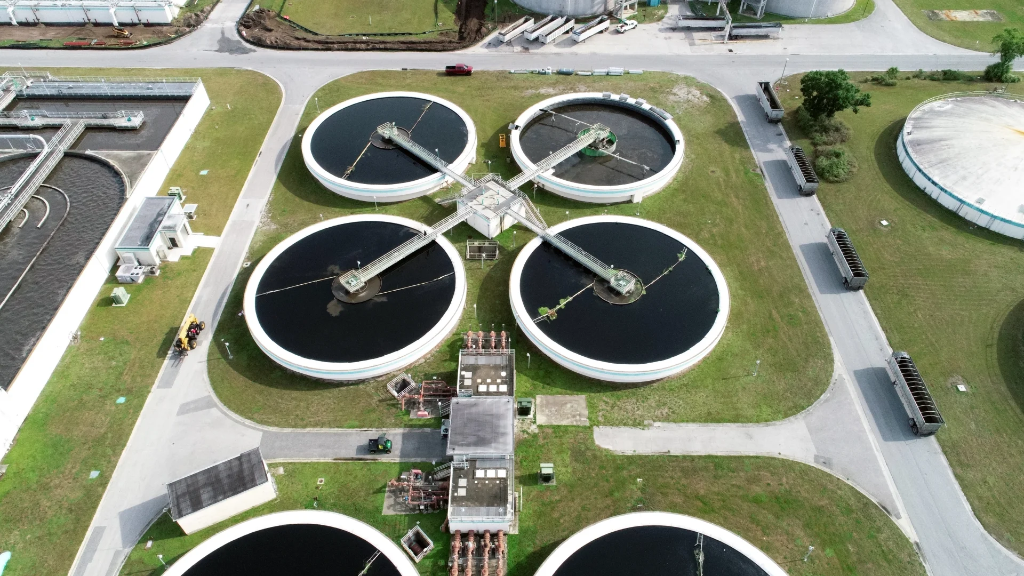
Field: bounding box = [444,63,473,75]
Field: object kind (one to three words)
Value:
vehicle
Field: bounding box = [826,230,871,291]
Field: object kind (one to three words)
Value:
trailer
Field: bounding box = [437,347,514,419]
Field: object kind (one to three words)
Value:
building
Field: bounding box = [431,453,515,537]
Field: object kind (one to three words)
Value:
building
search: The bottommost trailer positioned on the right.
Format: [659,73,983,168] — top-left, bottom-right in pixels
[884,353,946,436]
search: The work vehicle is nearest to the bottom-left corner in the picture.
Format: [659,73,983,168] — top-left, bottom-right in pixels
[171,312,203,360]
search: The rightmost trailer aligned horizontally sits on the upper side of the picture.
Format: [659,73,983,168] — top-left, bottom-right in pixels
[728,23,782,42]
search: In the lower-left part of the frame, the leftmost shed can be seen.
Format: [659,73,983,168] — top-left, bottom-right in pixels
[165,443,276,534]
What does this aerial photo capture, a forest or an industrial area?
industrial area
